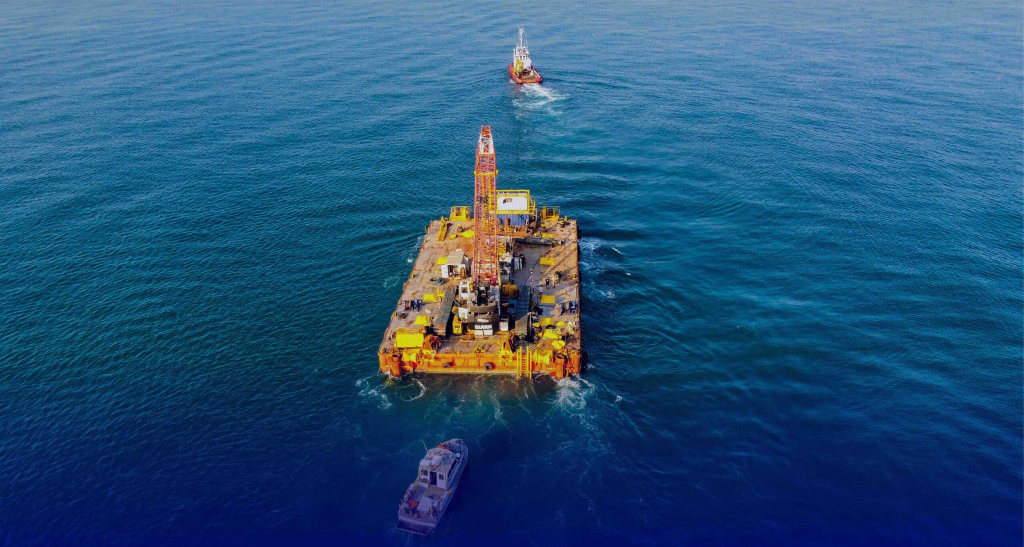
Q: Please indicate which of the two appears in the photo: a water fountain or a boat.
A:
boat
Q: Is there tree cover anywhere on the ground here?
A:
No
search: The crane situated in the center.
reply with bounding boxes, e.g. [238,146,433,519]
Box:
[433,123,531,340]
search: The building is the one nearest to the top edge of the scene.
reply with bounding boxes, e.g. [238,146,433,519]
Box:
[488,184,538,218]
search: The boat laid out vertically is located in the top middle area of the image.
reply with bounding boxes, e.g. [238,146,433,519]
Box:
[509,22,542,83]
